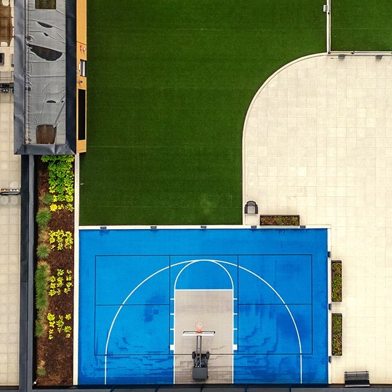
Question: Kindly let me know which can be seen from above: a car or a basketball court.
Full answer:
There is a basketball court in the scene.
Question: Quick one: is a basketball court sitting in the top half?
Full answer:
No, there is no basketball court in the top half.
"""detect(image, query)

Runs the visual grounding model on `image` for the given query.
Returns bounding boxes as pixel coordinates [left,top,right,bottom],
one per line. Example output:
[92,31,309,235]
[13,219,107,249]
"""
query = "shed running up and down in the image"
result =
[14,0,87,155]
